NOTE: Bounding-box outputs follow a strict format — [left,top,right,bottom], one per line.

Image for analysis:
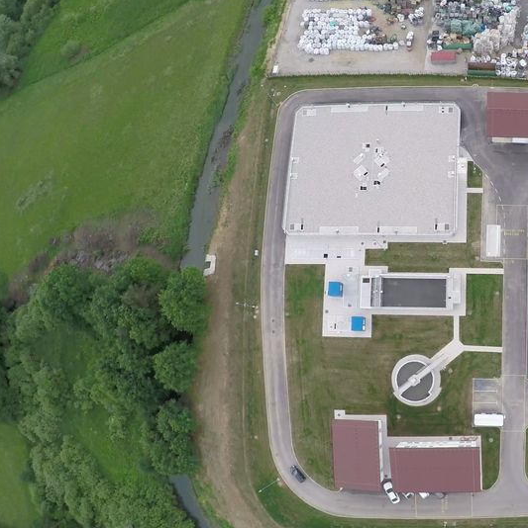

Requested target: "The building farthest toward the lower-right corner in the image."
[390,443,481,493]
